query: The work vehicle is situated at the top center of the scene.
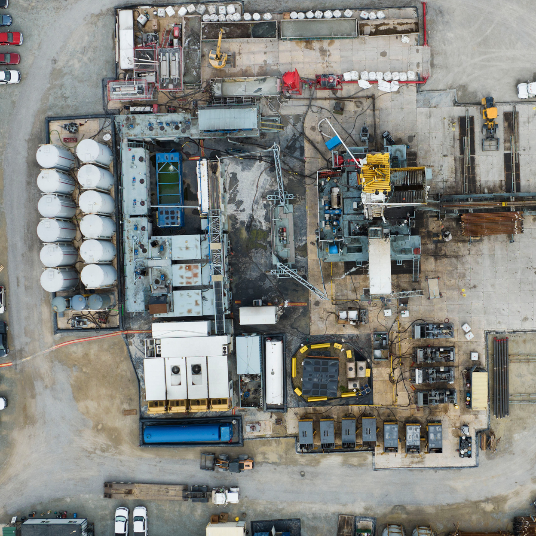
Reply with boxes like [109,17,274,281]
[208,26,236,68]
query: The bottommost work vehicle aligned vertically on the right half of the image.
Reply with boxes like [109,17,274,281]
[479,95,499,151]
